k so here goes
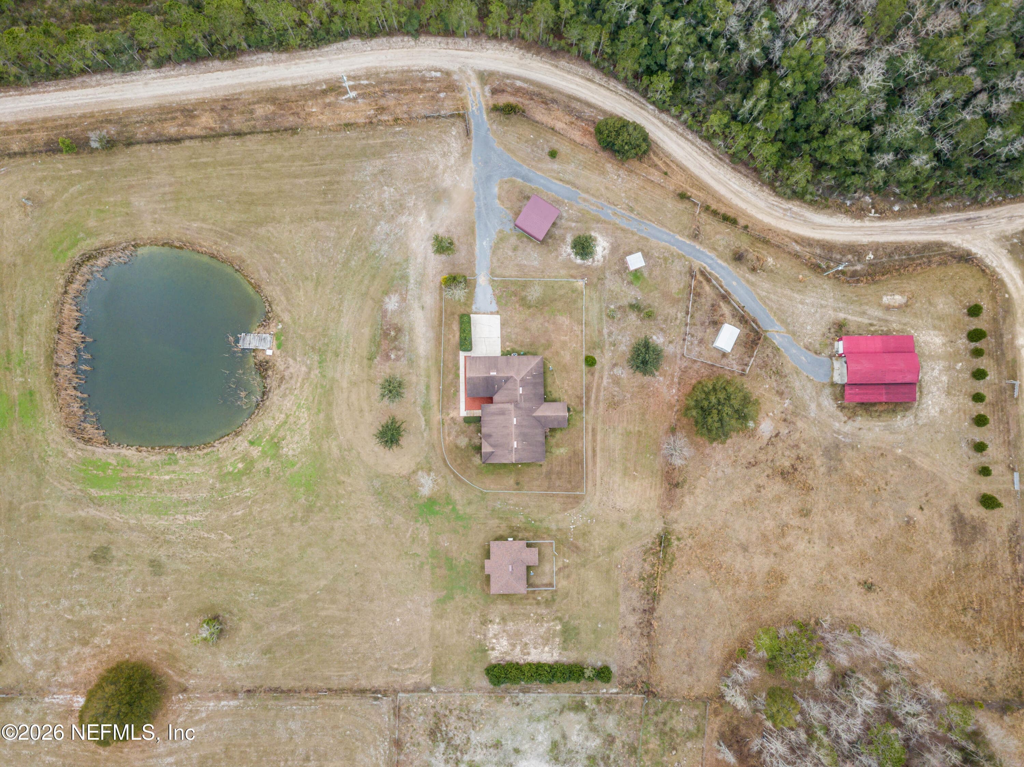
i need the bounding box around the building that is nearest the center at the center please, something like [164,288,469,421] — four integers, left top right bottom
[466,355,568,463]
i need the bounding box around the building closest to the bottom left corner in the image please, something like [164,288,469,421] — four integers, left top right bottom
[485,541,538,594]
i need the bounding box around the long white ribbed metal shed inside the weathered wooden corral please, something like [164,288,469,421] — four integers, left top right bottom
[711,324,740,353]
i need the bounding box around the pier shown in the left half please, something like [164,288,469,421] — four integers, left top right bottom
[237,333,273,349]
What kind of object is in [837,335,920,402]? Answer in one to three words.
barn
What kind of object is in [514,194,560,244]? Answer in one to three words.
shed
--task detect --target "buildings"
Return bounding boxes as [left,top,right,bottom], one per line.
[711,324,740,353]
[625,252,645,272]
[837,335,920,402]
[485,541,538,594]
[466,355,568,463]
[514,194,560,244]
